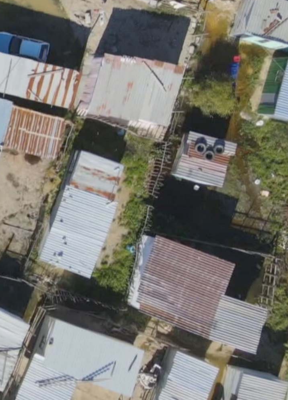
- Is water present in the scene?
Yes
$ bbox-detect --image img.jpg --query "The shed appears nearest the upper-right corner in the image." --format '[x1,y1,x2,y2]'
[227,0,288,52]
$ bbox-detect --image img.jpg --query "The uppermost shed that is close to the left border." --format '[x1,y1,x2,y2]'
[0,52,82,109]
